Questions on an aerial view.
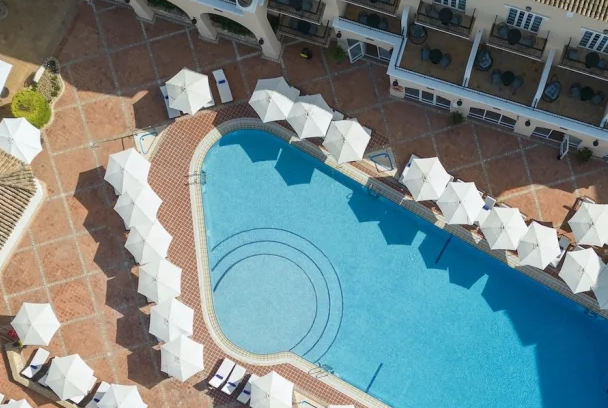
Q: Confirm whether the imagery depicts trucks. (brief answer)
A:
No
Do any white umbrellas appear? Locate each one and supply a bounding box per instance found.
[47,355,94,400]
[104,148,150,194]
[115,184,162,229]
[125,220,172,266]
[286,94,333,138]
[324,119,371,163]
[138,258,182,303]
[167,68,212,115]
[0,114,42,161]
[569,203,608,247]
[559,249,607,293]
[480,207,527,250]
[518,222,562,269]
[437,183,485,225]
[151,295,195,342]
[160,335,203,382]
[99,384,147,408]
[250,75,297,119]
[12,303,60,345]
[403,157,451,200]
[251,371,294,408]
